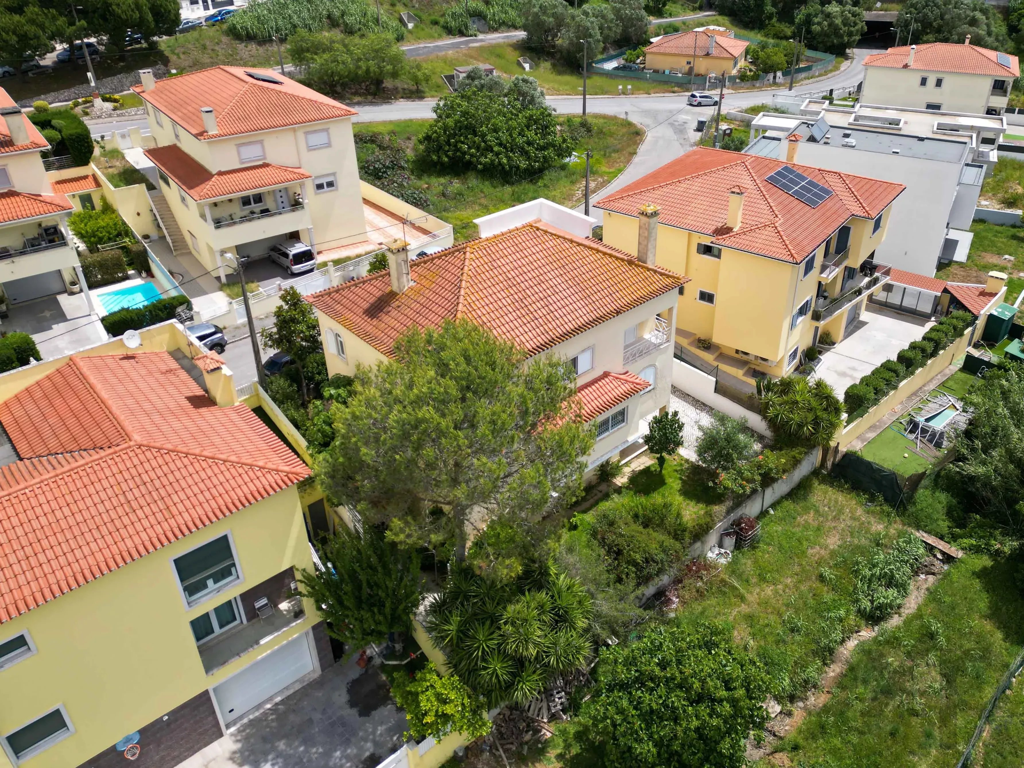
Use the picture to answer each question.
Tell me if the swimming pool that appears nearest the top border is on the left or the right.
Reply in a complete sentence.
The swimming pool that appears nearest the top border sits on the left side.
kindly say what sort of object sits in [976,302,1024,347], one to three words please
shed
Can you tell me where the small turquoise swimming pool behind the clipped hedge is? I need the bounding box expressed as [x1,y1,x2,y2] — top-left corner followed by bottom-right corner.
[94,277,169,317]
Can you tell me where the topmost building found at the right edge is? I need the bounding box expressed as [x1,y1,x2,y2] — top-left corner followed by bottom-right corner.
[859,25,1023,116]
